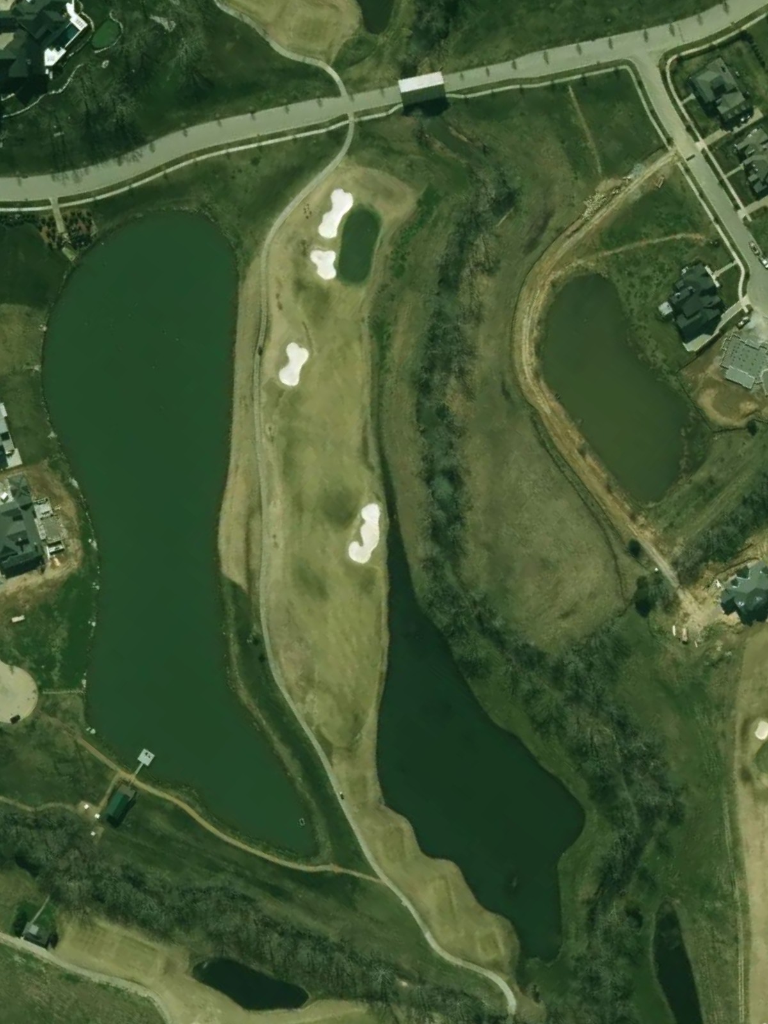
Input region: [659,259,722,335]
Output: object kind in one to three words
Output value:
house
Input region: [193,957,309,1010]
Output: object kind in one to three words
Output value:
pond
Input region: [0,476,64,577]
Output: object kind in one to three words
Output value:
house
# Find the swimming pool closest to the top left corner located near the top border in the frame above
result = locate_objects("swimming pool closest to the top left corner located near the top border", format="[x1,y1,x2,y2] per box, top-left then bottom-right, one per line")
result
[55,23,79,47]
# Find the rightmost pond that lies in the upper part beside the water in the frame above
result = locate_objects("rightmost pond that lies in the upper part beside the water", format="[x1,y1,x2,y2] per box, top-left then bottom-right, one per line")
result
[541,273,690,505]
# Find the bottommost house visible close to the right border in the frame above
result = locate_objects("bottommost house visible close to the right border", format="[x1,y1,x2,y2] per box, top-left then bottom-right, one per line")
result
[721,559,768,628]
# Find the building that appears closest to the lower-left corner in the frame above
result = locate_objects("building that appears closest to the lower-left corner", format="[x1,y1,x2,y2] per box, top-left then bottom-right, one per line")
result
[22,922,48,945]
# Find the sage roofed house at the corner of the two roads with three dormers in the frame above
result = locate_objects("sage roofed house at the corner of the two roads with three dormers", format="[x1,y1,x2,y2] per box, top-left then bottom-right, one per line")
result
[686,55,753,123]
